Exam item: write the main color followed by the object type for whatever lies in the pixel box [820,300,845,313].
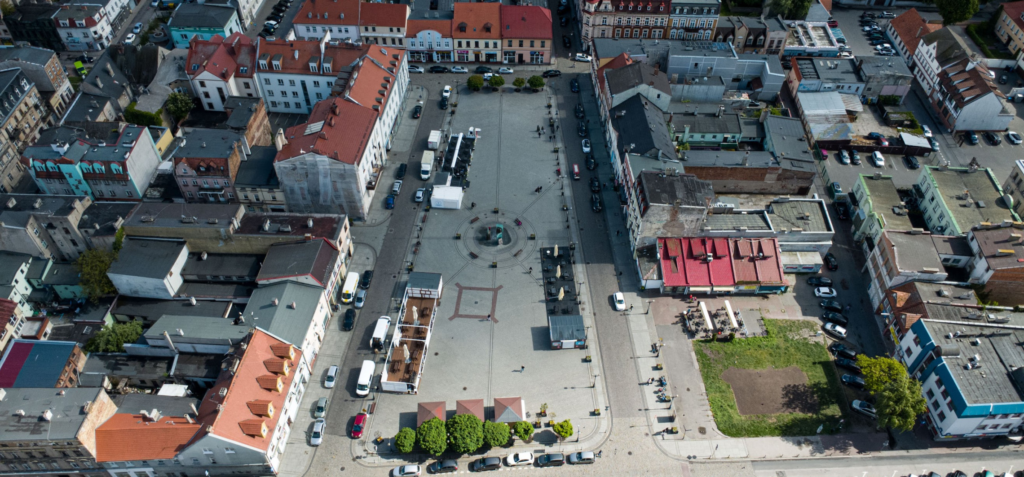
black vehicle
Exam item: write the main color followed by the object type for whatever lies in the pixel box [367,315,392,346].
white vehicle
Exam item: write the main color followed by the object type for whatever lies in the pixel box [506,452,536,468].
white car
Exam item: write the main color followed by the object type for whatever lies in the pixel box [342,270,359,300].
white vehicle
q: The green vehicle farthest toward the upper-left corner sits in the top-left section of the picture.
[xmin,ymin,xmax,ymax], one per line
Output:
[73,59,86,74]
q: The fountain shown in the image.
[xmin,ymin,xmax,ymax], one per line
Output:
[474,223,513,250]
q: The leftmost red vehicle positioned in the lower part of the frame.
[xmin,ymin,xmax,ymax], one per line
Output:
[351,413,367,438]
